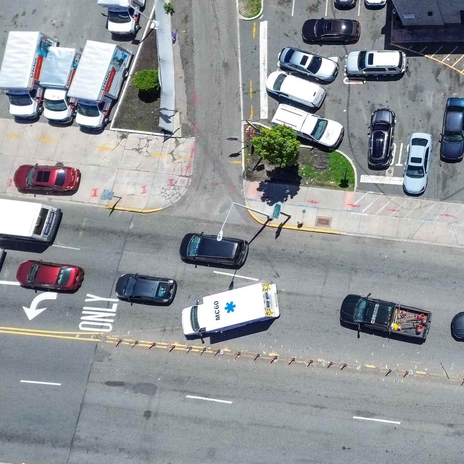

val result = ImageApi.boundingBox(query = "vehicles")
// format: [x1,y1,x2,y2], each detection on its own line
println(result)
[450,312,464,339]
[263,71,329,111]
[337,296,432,339]
[15,259,88,293]
[0,31,61,118]
[301,16,361,45]
[13,162,83,193]
[39,49,82,127]
[401,131,434,198]
[177,232,251,269]
[69,41,134,128]
[179,285,283,343]
[365,109,395,171]
[344,49,408,79]
[274,48,341,85]
[98,0,146,35]
[0,199,67,245]
[113,273,181,305]
[439,97,464,163]
[264,98,347,146]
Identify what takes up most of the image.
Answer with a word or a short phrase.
paved ground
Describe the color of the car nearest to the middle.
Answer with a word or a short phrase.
black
